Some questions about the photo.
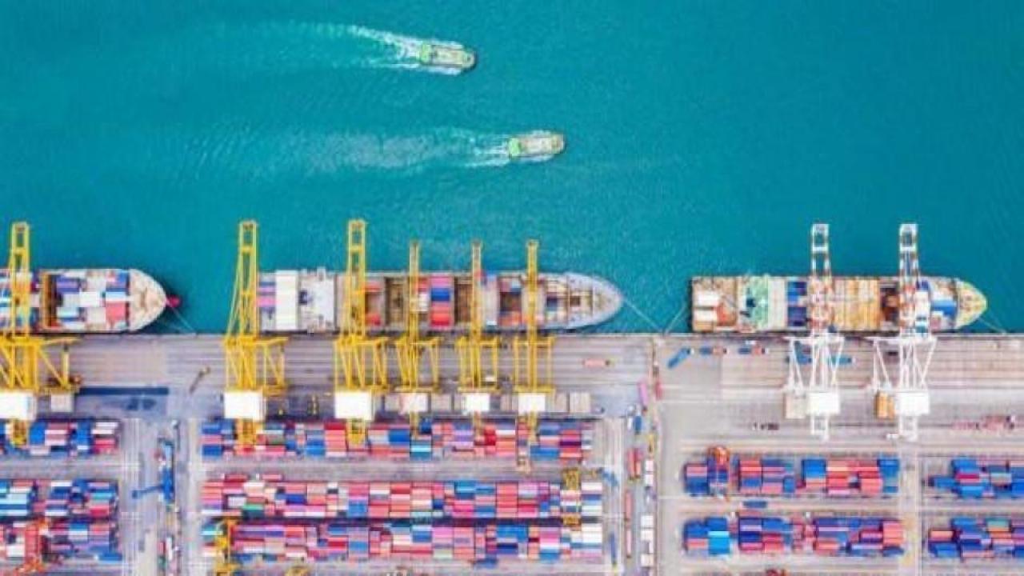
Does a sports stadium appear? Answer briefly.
No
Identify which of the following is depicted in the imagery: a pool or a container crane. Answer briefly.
container crane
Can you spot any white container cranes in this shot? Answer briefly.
Yes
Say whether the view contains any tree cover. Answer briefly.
No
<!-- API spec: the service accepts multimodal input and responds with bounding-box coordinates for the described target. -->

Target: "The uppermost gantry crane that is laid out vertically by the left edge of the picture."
[0,221,81,446]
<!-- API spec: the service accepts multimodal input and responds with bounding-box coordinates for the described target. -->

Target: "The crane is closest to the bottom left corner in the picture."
[22,511,60,573]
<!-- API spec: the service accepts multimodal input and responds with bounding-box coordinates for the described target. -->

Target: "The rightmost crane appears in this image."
[863,223,940,441]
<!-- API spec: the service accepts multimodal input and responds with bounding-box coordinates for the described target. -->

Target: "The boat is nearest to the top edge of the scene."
[420,42,476,70]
